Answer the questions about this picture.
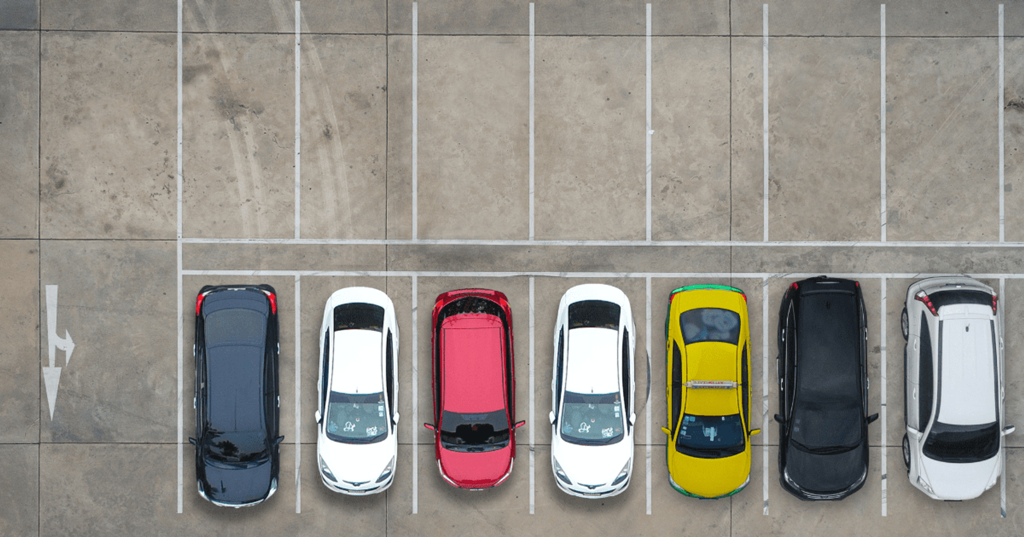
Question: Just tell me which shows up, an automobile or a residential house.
automobile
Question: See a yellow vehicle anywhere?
Yes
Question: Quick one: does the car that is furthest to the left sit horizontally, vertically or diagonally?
vertically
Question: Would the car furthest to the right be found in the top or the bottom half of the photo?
bottom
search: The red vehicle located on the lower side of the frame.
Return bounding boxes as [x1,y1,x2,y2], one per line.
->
[423,287,527,491]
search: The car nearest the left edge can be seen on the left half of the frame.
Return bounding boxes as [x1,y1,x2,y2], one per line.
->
[188,282,288,510]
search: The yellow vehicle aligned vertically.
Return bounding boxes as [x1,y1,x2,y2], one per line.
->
[658,283,761,501]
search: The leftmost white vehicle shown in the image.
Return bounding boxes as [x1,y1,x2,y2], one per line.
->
[313,285,404,495]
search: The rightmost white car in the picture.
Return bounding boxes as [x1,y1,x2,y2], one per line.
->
[904,275,1020,502]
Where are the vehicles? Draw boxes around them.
[546,283,640,499]
[658,283,761,501]
[772,274,880,501]
[423,287,527,491]
[904,275,1020,502]
[313,285,404,495]
[188,282,288,510]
